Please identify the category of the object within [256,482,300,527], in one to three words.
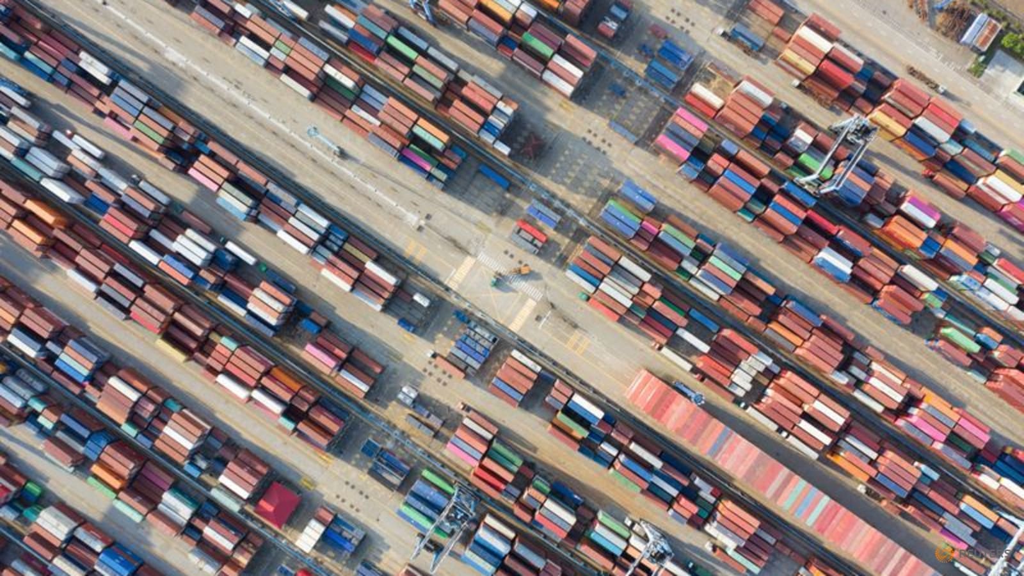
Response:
shed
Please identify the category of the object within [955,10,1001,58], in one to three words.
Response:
shed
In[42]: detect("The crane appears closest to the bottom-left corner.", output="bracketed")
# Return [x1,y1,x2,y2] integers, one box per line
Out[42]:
[400,487,475,576]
